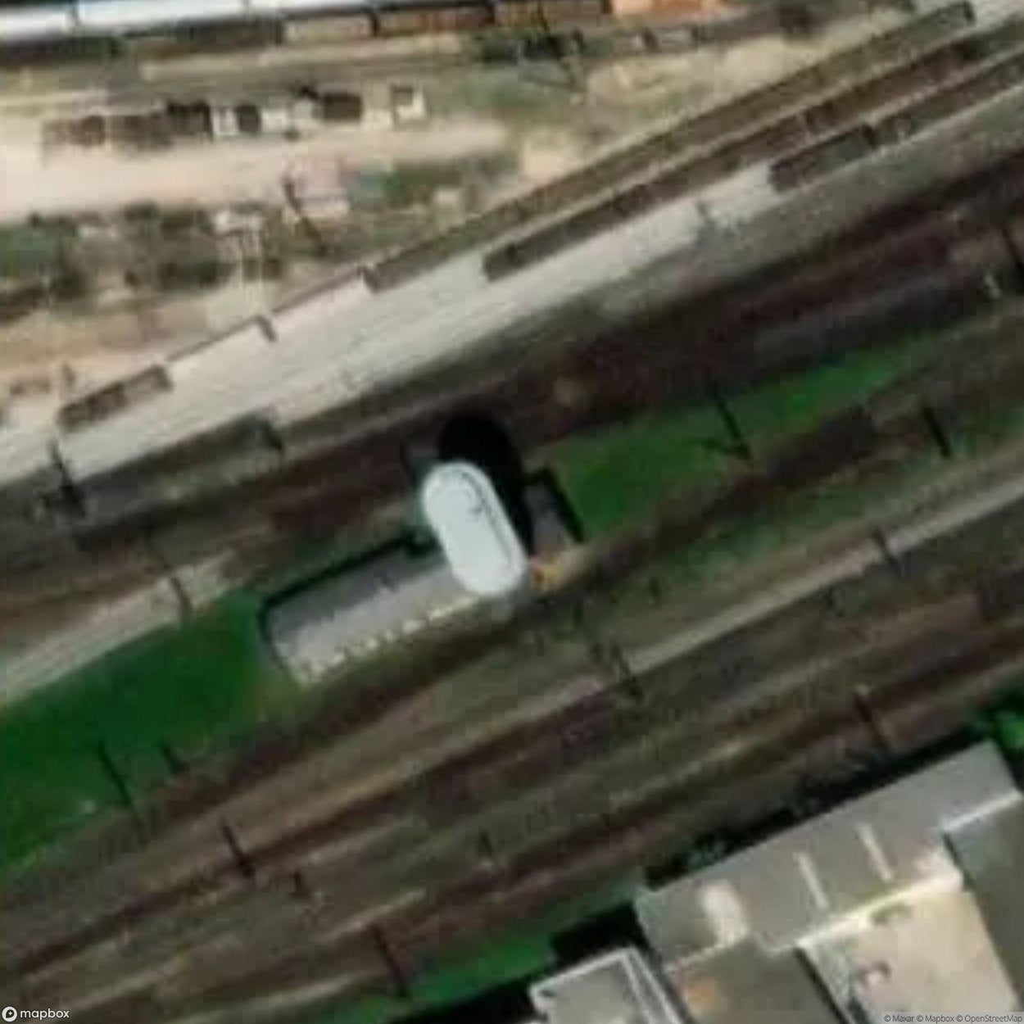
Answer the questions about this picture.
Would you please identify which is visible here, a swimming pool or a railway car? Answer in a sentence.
The image shows a railway car.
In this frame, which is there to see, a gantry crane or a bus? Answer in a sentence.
It is a bus that can be seen here.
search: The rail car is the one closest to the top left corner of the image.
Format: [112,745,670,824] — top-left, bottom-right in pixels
[0,37,81,68]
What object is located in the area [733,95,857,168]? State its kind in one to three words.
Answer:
rail car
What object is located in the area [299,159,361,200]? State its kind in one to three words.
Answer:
shed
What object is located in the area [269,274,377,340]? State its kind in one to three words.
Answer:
rail car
